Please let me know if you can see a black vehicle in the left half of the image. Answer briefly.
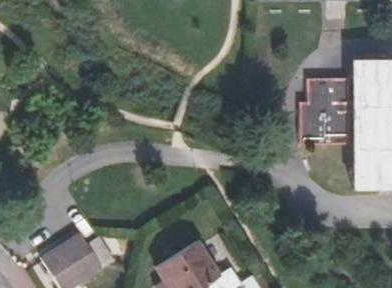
No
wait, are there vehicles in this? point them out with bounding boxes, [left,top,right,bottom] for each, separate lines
[66,208,94,240]
[29,230,50,249]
